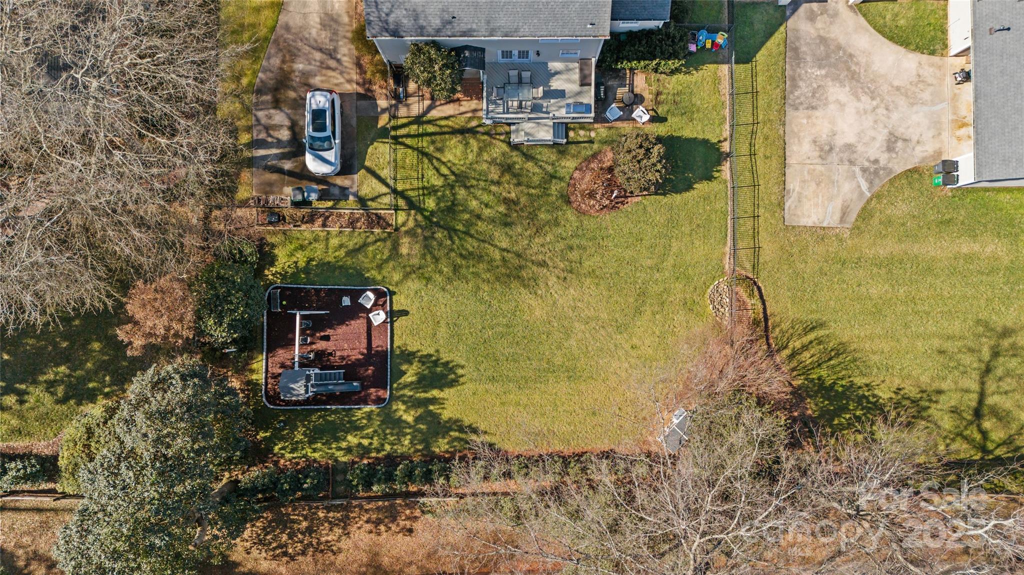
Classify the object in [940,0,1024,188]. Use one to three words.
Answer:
building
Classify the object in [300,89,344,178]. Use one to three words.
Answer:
car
